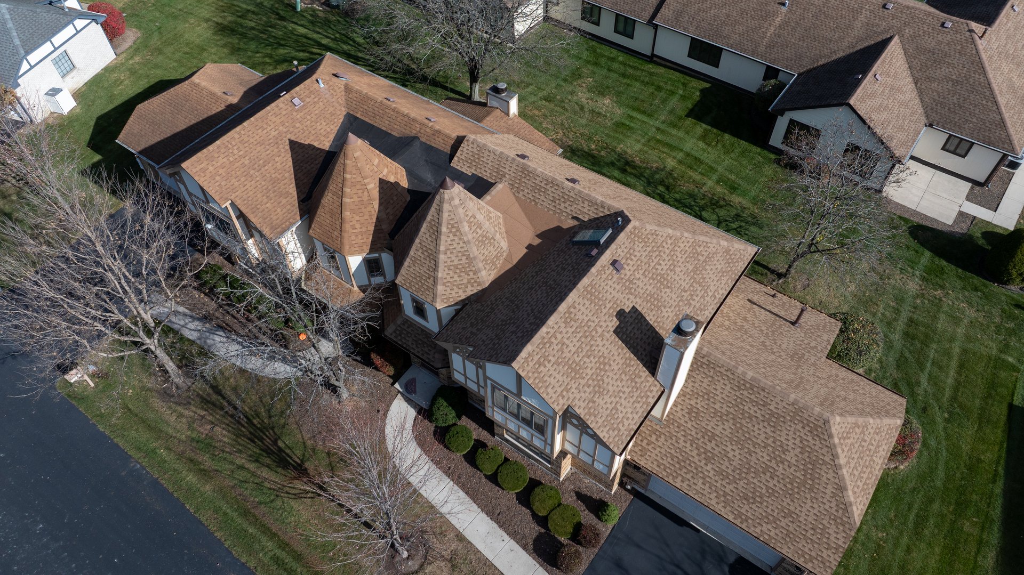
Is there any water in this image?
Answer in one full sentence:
No, no water is visible.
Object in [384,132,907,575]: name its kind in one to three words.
house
